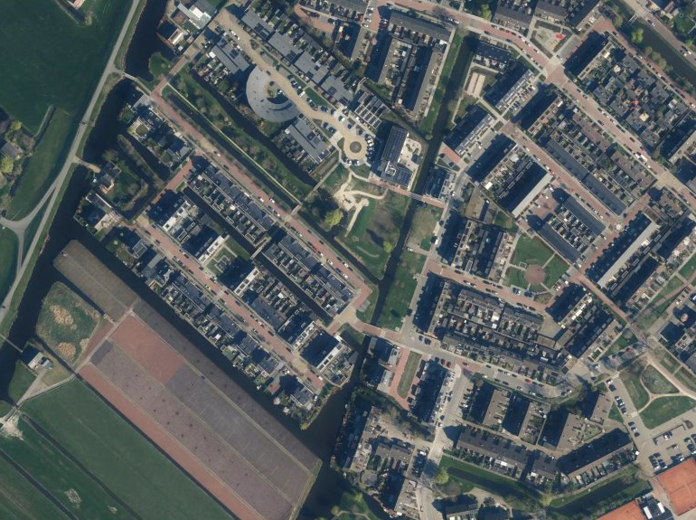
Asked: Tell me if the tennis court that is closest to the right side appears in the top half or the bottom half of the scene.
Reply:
bottom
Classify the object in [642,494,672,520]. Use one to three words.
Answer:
building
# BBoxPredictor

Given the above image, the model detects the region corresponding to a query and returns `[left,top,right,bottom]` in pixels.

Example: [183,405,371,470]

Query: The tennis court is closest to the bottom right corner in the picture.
[656,459,696,515]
